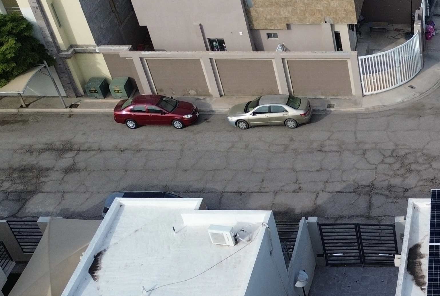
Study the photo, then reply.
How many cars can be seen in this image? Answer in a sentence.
There are 3 cars in the image.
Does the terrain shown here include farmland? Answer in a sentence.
No, farmland can't be seen anywhere here.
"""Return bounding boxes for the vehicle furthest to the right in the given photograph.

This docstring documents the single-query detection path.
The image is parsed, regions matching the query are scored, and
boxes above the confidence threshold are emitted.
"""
[224,94,312,131]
